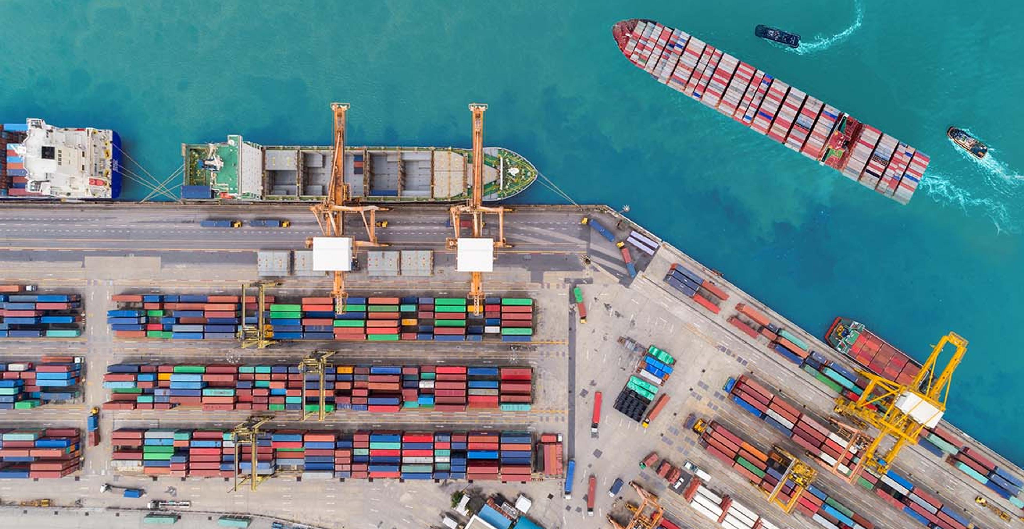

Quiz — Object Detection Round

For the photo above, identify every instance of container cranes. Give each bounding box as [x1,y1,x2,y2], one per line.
[827,329,971,469]
[601,476,669,529]
[801,412,882,484]
[299,351,341,422]
[446,101,513,319]
[741,439,822,515]
[304,100,392,320]
[239,282,285,349]
[231,416,278,494]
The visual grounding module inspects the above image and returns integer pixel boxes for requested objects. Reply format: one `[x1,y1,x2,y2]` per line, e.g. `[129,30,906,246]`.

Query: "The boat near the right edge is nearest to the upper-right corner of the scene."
[942,127,987,161]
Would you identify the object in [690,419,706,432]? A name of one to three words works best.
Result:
vehicle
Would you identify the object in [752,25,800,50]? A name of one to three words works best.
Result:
boat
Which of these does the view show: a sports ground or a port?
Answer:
port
